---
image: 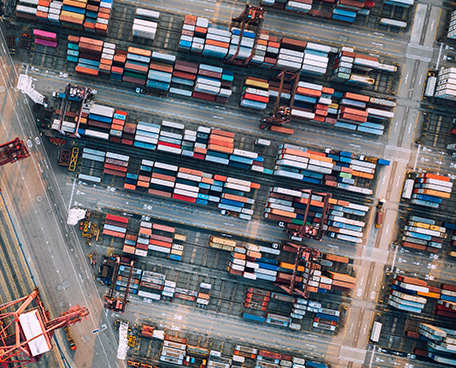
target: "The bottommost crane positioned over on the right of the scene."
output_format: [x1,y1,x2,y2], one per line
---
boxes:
[273,240,317,295]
